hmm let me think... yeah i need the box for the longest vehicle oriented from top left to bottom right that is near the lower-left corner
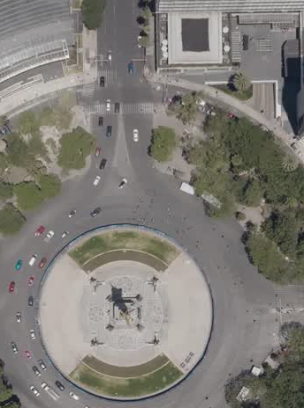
[42,384,59,399]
